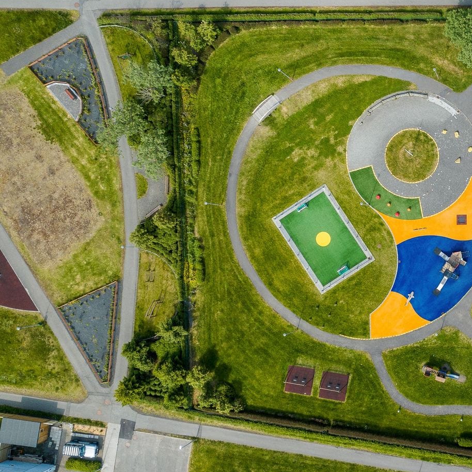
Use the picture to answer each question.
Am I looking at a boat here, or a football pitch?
football pitch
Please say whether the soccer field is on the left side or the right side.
right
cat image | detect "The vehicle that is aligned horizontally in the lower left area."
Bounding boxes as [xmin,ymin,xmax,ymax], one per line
[61,442,101,460]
